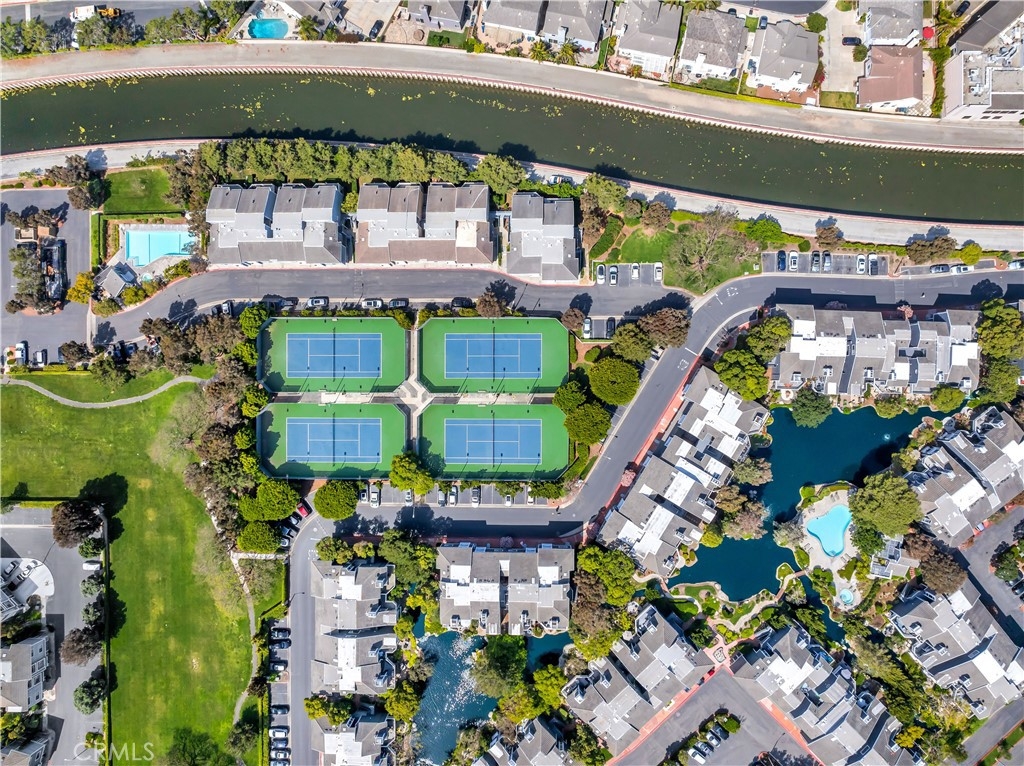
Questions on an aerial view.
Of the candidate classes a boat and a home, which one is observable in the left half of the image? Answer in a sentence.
There is a home in the left half of the image.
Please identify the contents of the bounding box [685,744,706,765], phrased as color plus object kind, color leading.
white vehicle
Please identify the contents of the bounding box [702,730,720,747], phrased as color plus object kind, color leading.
white car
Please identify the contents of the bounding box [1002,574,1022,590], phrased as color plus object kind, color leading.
gray car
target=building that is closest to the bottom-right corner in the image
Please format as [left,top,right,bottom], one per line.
[883,576,1024,720]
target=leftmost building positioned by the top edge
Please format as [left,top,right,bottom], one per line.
[277,0,349,36]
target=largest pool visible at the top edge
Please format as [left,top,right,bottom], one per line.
[248,18,288,37]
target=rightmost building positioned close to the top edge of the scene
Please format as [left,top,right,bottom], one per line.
[938,0,1024,121]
